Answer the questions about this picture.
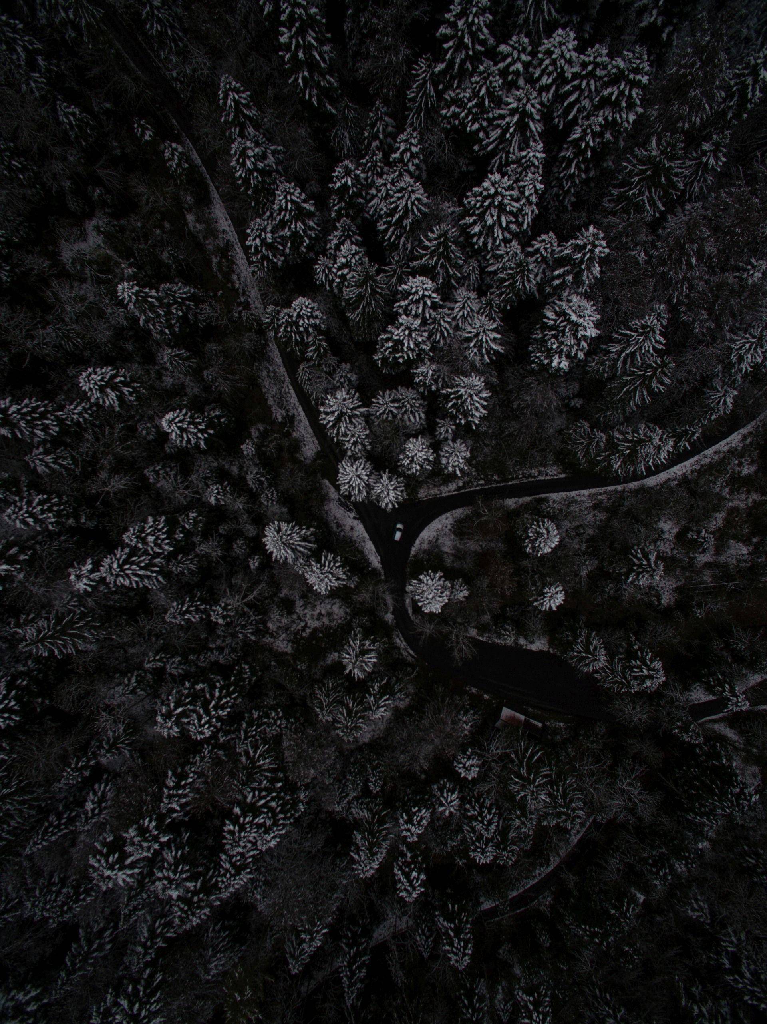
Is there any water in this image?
No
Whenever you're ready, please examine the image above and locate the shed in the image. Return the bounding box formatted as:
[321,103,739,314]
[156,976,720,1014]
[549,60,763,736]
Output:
[495,706,541,743]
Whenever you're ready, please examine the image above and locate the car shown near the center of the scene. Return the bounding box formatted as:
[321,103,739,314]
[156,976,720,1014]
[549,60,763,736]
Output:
[393,522,405,542]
